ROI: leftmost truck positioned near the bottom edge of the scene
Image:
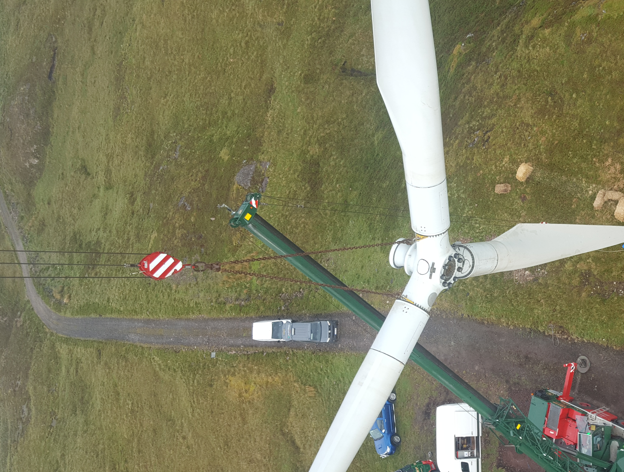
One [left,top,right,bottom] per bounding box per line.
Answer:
[367,388,401,457]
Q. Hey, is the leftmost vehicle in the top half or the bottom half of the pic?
bottom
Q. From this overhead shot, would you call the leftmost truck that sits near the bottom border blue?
Yes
